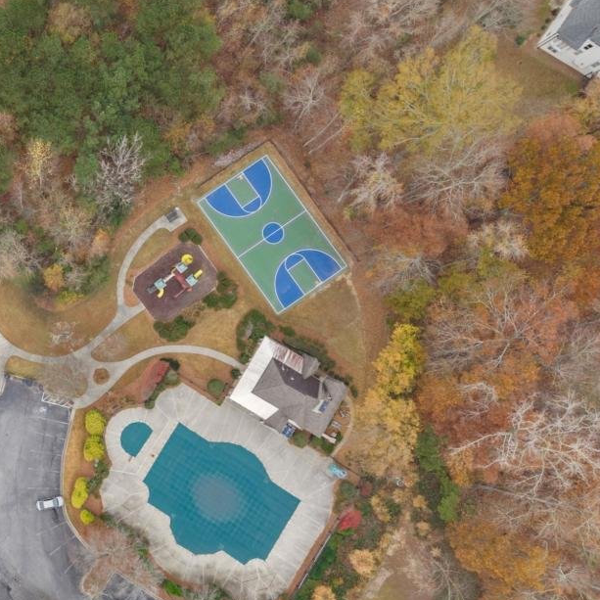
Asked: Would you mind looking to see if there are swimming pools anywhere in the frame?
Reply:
Yes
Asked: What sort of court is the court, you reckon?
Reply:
basketball court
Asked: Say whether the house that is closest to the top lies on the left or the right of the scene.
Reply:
right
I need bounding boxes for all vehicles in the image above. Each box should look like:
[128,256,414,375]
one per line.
[36,496,64,511]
